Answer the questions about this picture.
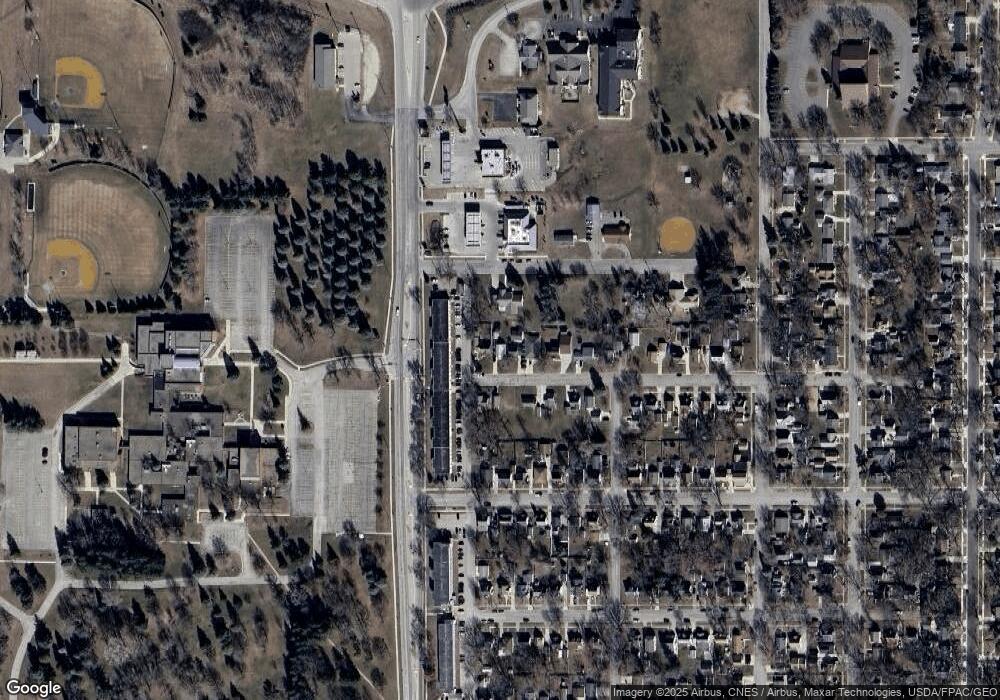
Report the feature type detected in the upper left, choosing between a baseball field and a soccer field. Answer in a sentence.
There is a baseball field in the upper left.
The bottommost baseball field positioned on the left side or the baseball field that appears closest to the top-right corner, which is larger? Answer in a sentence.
The baseball field that appears closest to the top-right corner is smaller than the bottommost baseball field positioned on the left side.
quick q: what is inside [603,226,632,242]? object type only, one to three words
house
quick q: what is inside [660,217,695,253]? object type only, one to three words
baseball field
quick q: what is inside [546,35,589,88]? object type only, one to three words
building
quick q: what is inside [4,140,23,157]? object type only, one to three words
building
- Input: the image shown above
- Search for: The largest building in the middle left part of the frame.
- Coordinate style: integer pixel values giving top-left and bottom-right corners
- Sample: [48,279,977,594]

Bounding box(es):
[63,322,279,515]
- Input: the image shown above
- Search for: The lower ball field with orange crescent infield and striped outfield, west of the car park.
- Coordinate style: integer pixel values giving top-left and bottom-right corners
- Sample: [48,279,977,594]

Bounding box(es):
[36,163,170,301]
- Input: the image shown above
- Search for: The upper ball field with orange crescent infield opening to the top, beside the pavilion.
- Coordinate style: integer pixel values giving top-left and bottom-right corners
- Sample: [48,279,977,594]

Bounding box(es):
[40,0,174,135]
